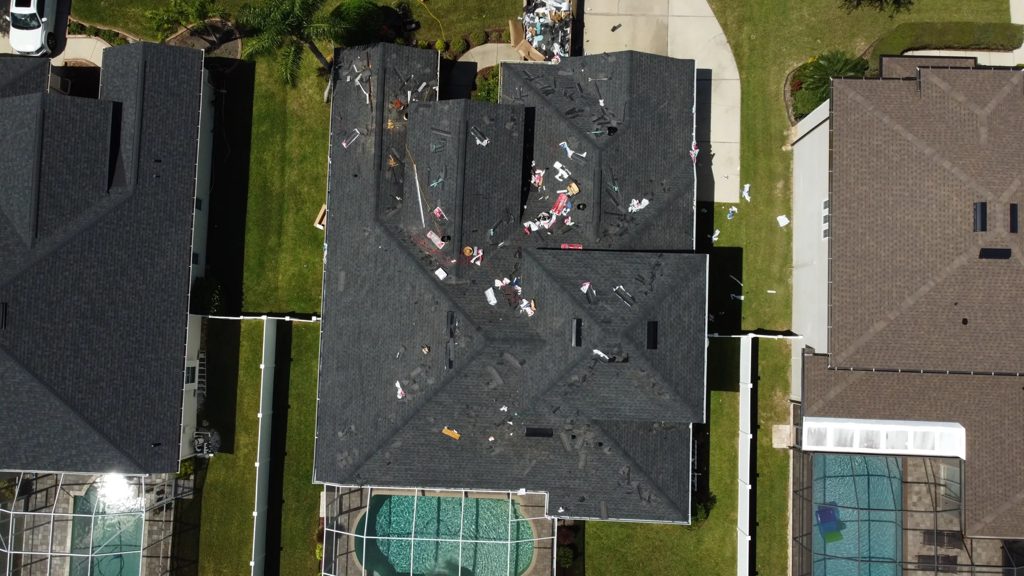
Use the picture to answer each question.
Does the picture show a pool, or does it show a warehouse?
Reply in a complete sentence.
The one in the frame is a pool.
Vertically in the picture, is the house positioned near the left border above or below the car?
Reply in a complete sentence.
The house positioned near the left border is below the car.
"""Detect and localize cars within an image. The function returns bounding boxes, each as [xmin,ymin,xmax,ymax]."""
[7,0,59,57]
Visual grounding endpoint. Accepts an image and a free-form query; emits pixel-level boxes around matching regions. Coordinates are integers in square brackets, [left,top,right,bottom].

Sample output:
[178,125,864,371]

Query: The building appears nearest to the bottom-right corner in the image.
[792,55,1024,538]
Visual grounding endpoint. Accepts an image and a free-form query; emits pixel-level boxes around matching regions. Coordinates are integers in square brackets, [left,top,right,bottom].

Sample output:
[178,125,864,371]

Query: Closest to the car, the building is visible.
[0,42,217,478]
